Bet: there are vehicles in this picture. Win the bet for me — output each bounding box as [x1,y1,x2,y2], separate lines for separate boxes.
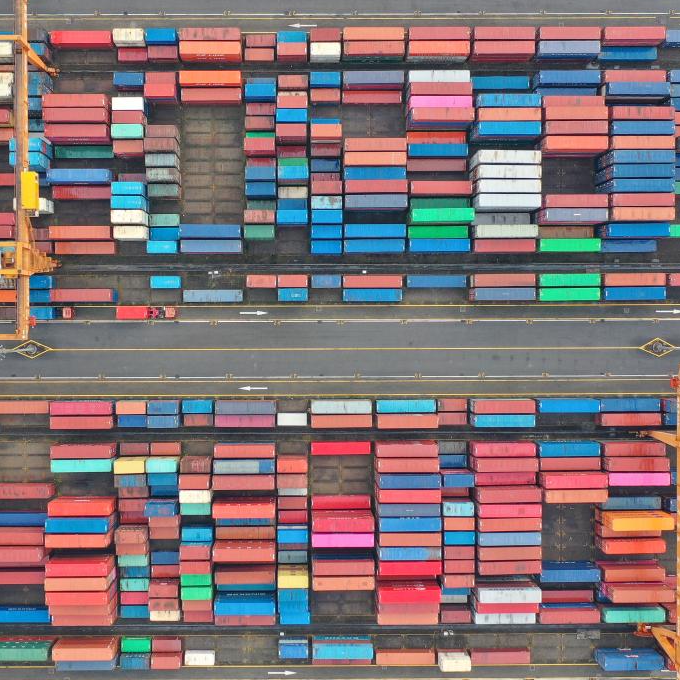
[149,307,179,321]
[56,307,79,321]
